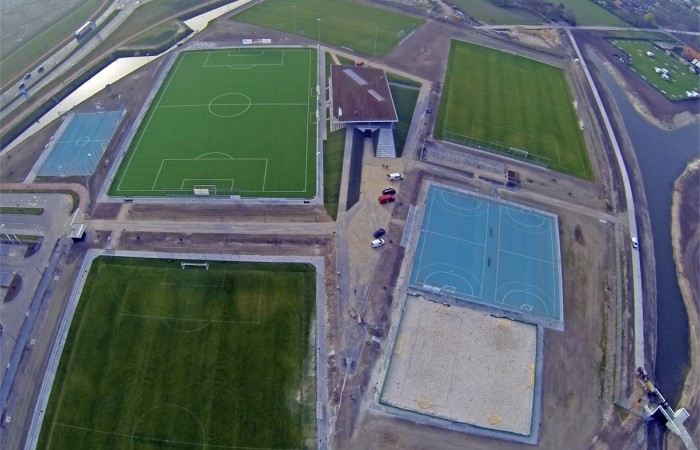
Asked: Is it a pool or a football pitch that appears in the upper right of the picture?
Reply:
football pitch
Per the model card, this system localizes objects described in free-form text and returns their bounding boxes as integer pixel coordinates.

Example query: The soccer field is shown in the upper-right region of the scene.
[433,38,595,183]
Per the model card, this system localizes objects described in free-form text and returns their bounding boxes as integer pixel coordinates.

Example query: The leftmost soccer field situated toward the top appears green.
[94,47,324,203]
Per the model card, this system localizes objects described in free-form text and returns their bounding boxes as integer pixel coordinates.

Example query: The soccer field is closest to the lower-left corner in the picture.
[29,248,330,450]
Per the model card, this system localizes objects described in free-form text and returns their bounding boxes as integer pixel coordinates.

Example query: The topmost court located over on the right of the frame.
[397,181,563,331]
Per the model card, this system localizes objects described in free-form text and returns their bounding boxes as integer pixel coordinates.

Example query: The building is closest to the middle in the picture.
[321,64,399,143]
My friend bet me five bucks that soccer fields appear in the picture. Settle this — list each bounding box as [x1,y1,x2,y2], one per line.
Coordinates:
[29,248,330,450]
[433,38,595,183]
[94,47,324,203]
